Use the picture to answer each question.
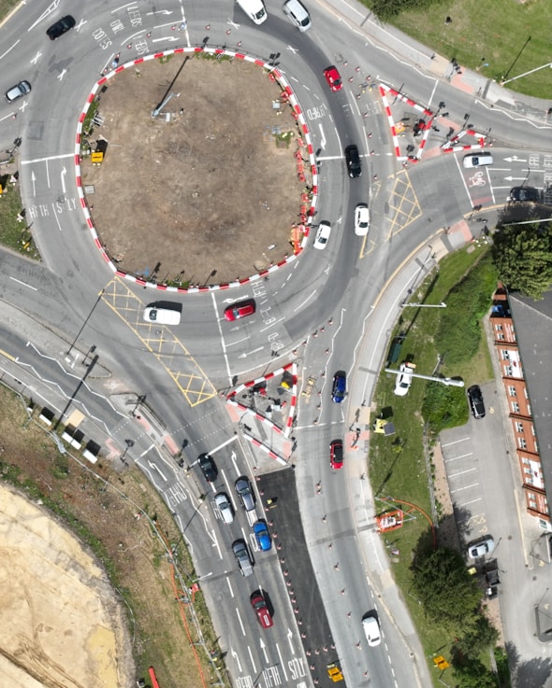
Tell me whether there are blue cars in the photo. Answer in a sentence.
Yes, there's a blue car down there.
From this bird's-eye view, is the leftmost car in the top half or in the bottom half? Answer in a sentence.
You can find the leftmost car in the top half.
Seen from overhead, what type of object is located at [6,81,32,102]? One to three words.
car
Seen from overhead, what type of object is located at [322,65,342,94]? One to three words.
car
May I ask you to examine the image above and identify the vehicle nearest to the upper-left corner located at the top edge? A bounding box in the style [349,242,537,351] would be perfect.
[46,16,75,39]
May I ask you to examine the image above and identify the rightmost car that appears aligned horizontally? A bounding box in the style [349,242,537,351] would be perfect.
[509,185,542,201]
